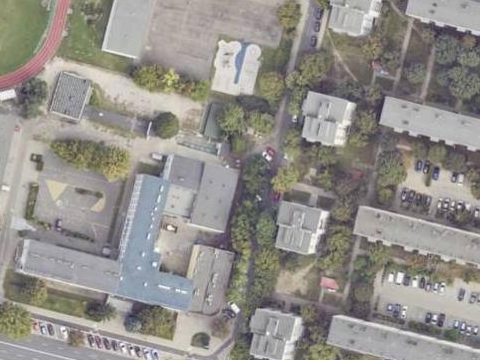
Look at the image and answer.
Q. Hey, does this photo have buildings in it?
Yes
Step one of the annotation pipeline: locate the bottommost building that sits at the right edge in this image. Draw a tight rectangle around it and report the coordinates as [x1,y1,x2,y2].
[326,312,480,360]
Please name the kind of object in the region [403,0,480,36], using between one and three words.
building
